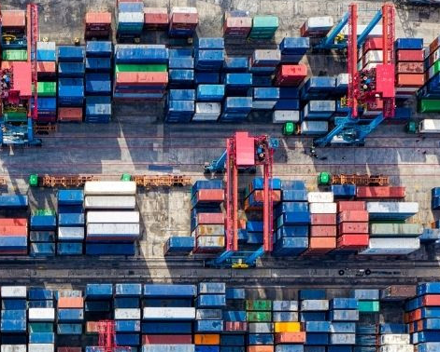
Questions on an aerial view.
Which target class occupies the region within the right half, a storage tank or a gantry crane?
gantry crane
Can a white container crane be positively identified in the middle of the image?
No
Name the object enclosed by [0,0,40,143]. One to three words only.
container crane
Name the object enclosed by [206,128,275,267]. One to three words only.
container crane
